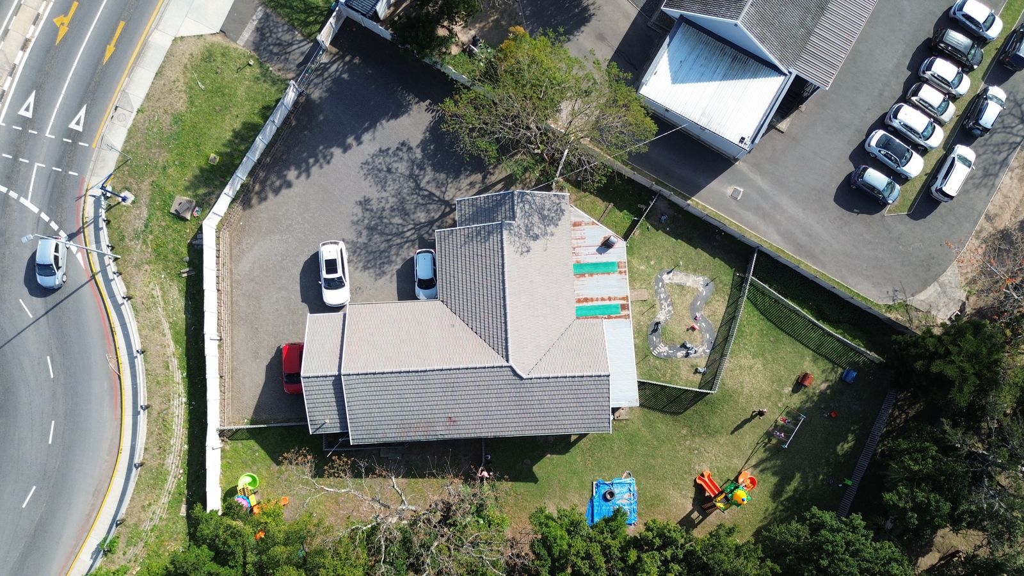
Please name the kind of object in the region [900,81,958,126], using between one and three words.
car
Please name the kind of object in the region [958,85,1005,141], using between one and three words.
car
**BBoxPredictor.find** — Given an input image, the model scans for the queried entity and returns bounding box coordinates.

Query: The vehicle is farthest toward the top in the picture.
[944,0,1004,44]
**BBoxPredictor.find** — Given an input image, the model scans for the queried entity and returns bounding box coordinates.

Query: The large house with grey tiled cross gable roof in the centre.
[341,190,612,446]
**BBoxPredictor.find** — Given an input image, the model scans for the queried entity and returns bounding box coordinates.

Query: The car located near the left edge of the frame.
[33,235,74,291]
